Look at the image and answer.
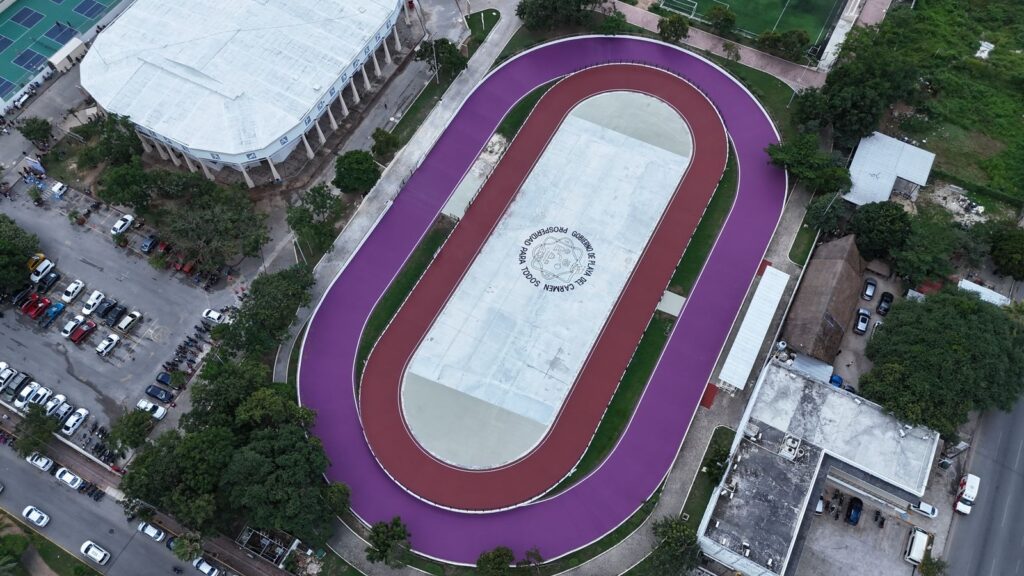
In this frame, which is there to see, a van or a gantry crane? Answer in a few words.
van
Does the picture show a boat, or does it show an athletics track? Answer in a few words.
athletics track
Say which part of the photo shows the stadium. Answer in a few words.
top left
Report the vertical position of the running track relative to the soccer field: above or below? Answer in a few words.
below it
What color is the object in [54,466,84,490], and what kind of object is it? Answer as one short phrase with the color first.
white car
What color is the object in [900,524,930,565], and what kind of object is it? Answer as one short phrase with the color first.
white vehicle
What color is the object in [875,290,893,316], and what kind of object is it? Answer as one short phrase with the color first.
black car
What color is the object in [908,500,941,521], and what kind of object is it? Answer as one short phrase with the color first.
white car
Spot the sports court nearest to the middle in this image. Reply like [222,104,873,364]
[399,89,693,469]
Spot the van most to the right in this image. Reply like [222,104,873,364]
[952,470,987,517]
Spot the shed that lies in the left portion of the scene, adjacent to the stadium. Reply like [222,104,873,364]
[50,39,90,80]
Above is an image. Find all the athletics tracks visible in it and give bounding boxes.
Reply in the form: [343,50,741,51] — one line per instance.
[296,32,788,568]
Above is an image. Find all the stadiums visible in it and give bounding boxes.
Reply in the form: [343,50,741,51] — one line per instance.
[79,0,412,189]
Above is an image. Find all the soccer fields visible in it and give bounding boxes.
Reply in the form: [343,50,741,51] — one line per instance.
[660,0,840,51]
